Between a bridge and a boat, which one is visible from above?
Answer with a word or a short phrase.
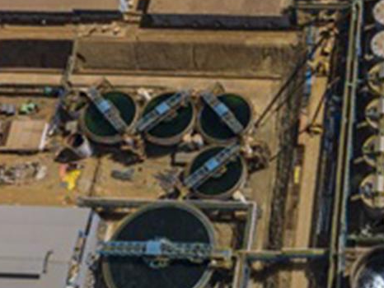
bridge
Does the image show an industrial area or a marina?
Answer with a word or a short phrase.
industrial area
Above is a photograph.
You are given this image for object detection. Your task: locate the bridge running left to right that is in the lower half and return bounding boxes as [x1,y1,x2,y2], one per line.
[91,241,228,259]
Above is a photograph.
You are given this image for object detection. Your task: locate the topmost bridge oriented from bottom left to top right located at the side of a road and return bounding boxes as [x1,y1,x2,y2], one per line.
[134,88,194,137]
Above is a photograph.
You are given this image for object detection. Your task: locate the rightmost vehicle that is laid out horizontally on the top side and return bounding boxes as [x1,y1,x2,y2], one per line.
[20,101,39,113]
